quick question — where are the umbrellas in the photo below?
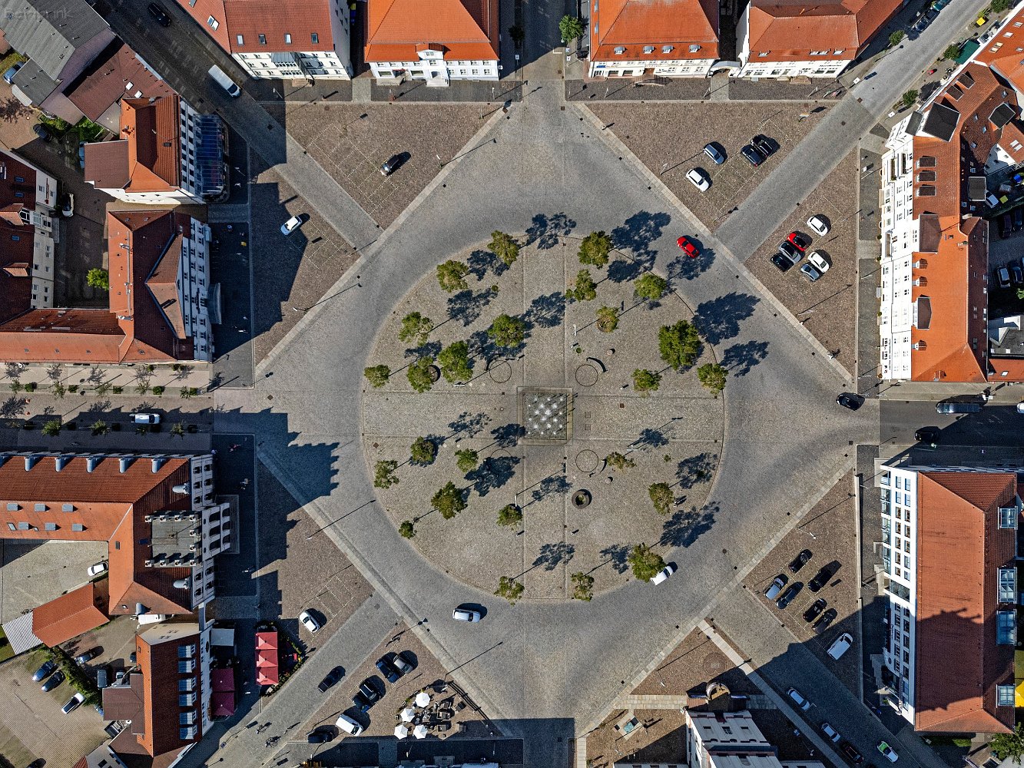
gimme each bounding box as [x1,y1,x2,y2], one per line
[256,667,278,684]
[256,649,278,667]
[394,721,408,738]
[401,704,415,721]
[256,631,278,649]
[413,721,428,738]
[212,692,235,716]
[415,689,431,707]
[212,668,235,691]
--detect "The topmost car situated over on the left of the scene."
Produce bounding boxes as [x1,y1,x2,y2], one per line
[145,1,174,29]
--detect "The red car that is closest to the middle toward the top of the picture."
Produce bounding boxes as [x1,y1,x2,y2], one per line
[674,235,701,259]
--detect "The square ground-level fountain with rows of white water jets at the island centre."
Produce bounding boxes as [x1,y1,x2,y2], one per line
[517,387,573,445]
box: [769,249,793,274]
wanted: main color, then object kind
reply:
black car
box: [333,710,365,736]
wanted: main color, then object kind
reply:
white vehicle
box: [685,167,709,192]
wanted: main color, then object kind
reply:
white car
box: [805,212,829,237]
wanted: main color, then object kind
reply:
white car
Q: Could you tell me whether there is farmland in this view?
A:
No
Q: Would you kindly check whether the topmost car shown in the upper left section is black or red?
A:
black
